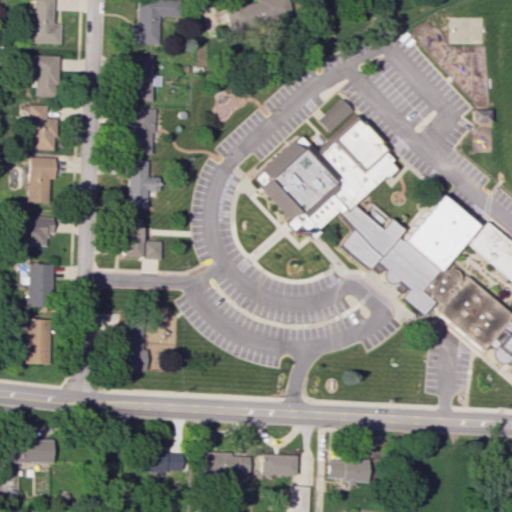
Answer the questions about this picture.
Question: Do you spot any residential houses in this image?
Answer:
Yes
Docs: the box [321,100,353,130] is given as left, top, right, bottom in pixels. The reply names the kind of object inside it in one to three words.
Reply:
building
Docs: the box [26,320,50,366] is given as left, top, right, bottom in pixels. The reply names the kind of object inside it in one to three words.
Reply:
house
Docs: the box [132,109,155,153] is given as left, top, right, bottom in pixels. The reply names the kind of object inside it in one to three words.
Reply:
house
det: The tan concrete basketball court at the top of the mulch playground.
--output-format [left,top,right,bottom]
[448,18,485,45]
